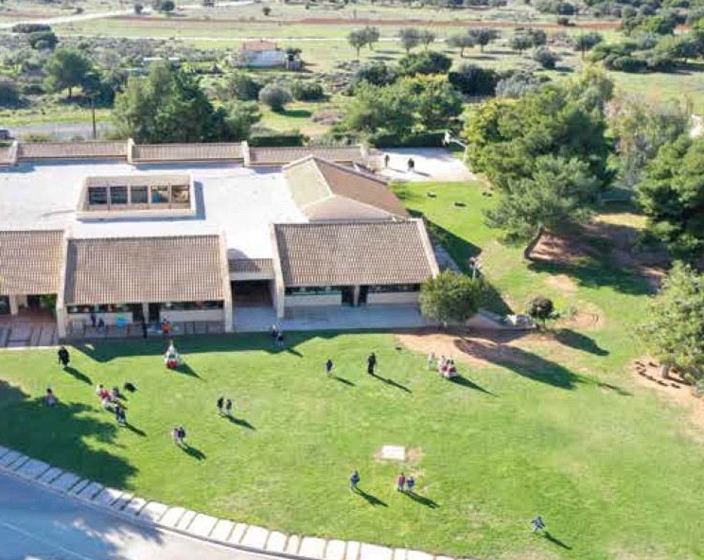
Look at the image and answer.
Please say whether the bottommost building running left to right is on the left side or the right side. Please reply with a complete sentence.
The bottommost building running left to right is on the left side of the image.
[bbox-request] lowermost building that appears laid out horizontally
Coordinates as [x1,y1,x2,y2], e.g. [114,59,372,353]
[0,134,449,346]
